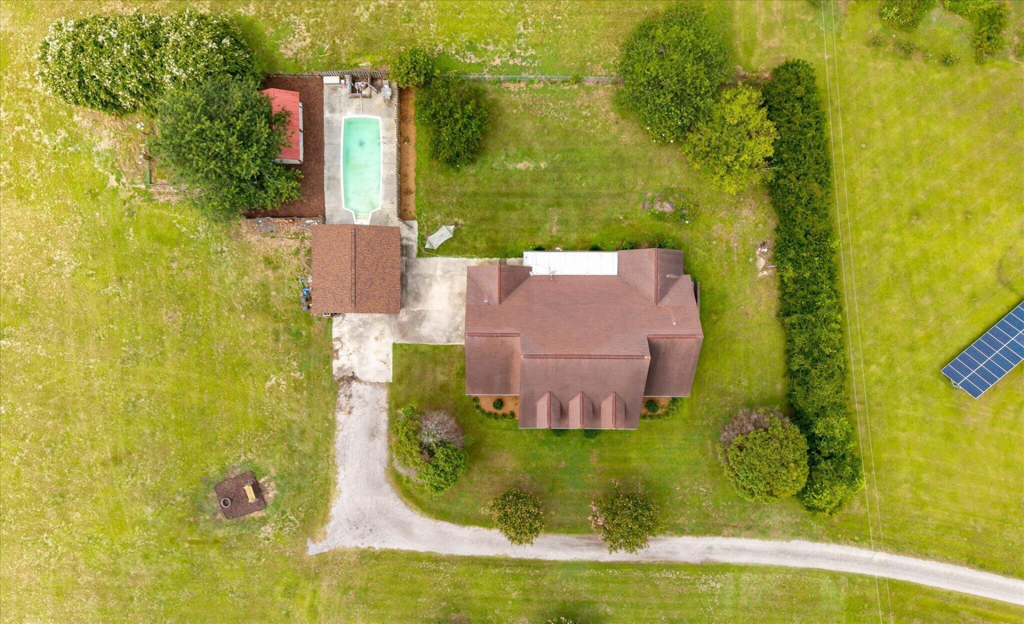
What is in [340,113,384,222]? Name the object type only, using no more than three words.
swimming pool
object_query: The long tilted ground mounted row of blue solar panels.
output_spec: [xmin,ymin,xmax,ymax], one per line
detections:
[941,297,1024,398]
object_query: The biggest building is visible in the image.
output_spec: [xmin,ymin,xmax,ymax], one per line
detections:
[464,248,701,430]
